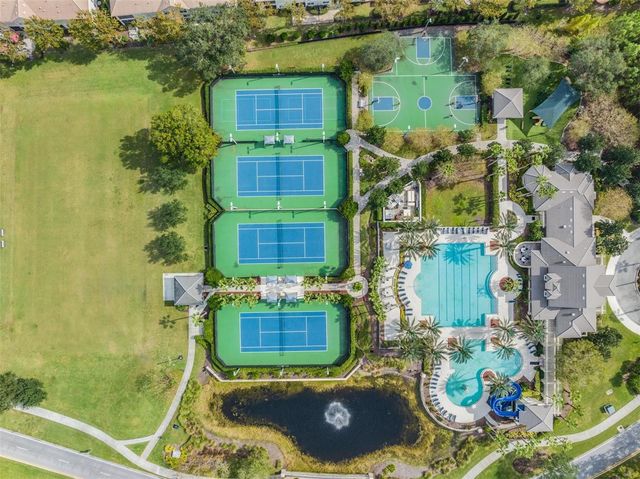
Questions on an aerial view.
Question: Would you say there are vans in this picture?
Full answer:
No, I find no van anywhere in the image.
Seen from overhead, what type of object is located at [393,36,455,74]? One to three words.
basketball court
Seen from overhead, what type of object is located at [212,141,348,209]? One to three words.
tennis court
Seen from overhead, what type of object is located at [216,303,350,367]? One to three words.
tennis court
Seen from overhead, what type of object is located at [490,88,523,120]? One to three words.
building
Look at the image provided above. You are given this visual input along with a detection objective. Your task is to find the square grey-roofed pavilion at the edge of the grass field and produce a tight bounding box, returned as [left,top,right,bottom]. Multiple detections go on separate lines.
[174,275,206,305]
